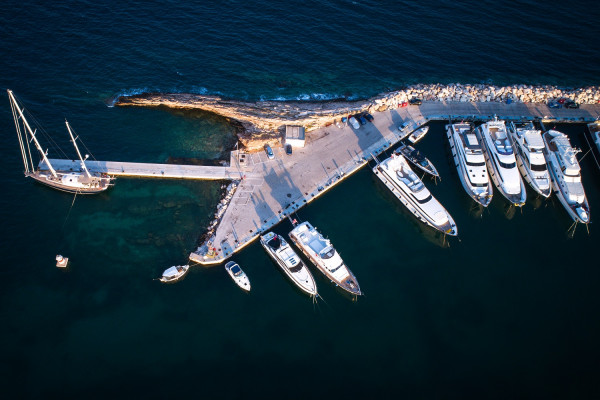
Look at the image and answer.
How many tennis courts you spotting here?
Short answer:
0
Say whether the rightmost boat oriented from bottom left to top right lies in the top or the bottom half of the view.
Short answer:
top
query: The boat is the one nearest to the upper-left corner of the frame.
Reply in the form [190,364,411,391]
[4,89,115,210]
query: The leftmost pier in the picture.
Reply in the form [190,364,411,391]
[38,159,230,183]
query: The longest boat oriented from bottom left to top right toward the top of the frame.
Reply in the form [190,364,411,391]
[408,123,428,145]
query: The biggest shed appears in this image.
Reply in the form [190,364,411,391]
[284,125,306,147]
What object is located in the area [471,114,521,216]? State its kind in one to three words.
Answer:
boat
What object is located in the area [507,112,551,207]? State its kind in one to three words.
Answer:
boat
